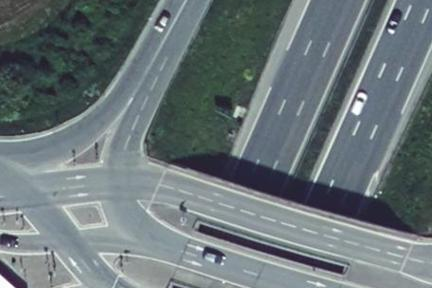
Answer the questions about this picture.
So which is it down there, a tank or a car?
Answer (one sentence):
Looking from above, you can make out a car.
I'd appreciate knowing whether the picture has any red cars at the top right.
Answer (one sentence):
No, there is no red car at the top right.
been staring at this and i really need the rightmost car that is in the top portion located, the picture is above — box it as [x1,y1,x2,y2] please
[385,8,402,32]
